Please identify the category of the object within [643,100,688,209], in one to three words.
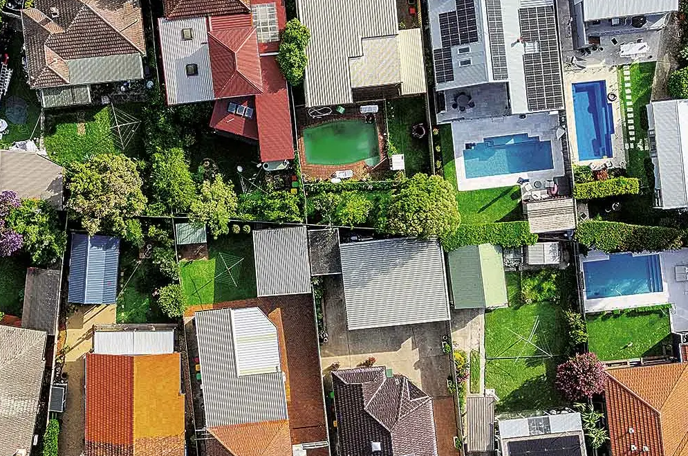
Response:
building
